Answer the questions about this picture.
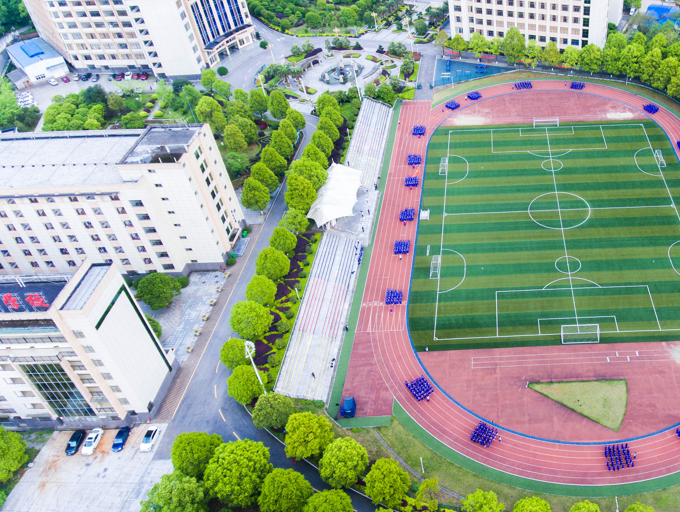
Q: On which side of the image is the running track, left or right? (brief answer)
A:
right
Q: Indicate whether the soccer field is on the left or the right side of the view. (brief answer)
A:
right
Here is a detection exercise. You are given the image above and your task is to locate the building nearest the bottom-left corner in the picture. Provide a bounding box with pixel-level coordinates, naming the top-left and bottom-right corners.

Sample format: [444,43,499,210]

[0,263,185,428]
